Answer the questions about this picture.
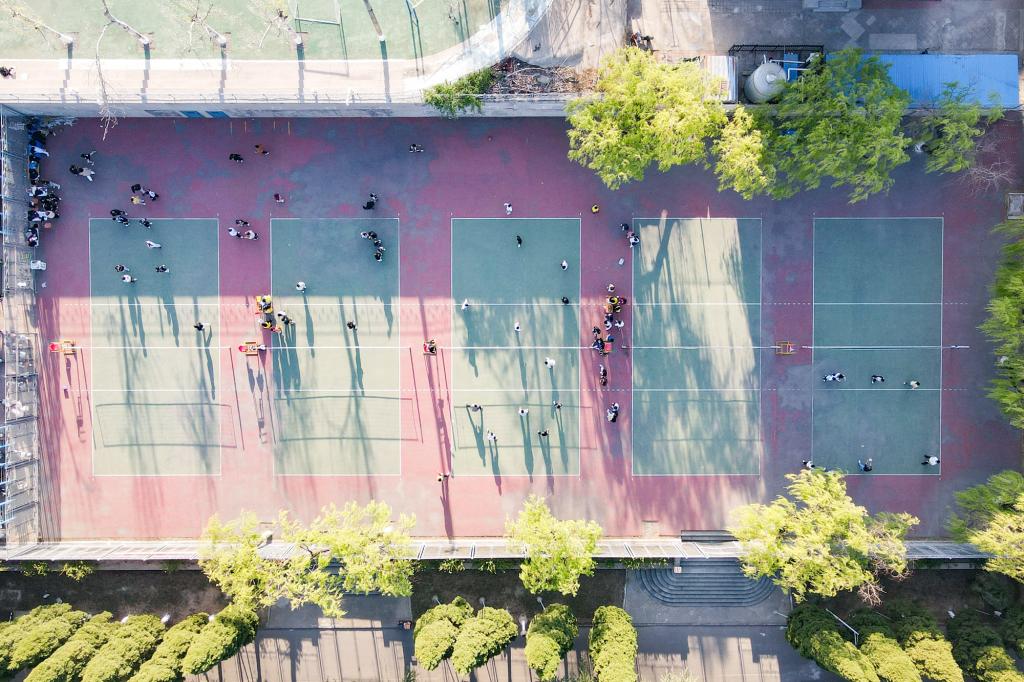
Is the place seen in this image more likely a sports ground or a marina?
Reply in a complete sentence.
The area seen from above is a sports ground.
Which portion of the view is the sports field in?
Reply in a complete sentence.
The sports field is located in the top left region of the scene.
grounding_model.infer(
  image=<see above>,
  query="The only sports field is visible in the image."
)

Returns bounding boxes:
[0,0,552,91]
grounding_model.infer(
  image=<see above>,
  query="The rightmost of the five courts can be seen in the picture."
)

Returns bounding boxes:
[787,212,968,480]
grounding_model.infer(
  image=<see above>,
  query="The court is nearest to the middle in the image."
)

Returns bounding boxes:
[426,213,606,480]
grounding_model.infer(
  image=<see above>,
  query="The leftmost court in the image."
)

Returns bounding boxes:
[65,214,244,480]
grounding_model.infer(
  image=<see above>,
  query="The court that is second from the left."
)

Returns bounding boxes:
[246,213,426,480]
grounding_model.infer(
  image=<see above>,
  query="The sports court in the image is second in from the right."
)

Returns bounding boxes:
[606,212,786,480]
